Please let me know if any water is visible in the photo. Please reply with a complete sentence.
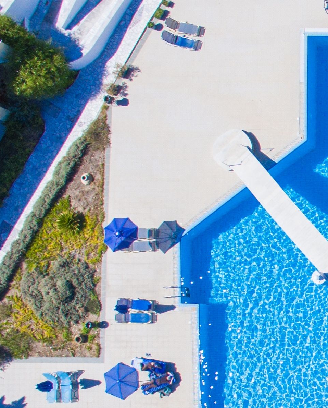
Yes, the picture does contain water.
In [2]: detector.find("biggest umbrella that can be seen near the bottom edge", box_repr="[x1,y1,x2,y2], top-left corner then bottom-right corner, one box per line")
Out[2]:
[105,361,144,399]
